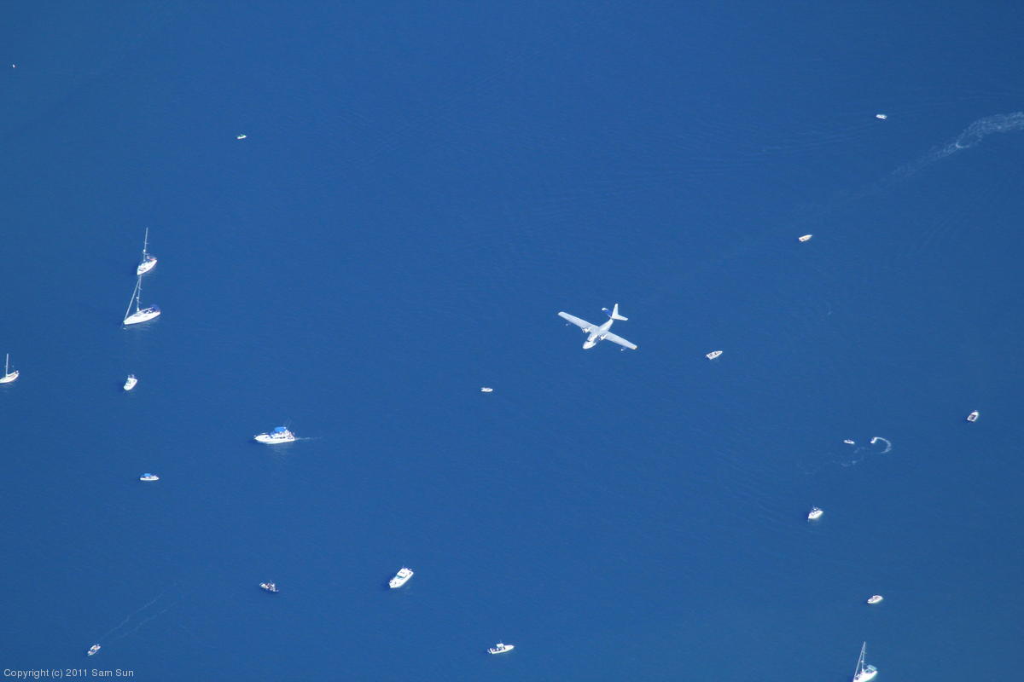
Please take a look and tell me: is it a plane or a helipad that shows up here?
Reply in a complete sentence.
Of the two, only a plane appears.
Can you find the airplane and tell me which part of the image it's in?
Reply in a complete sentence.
The airplane appears toward the center of the photo.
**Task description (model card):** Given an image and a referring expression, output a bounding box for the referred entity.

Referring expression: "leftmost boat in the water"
[0,354,20,382]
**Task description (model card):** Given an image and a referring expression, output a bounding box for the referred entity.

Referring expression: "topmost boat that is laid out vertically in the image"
[137,227,156,275]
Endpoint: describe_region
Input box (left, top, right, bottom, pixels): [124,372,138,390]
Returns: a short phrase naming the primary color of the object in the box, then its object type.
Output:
white boat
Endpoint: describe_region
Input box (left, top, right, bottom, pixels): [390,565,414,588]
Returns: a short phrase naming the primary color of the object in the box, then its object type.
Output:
white boat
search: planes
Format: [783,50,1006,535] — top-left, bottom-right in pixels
[559,305,637,352]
